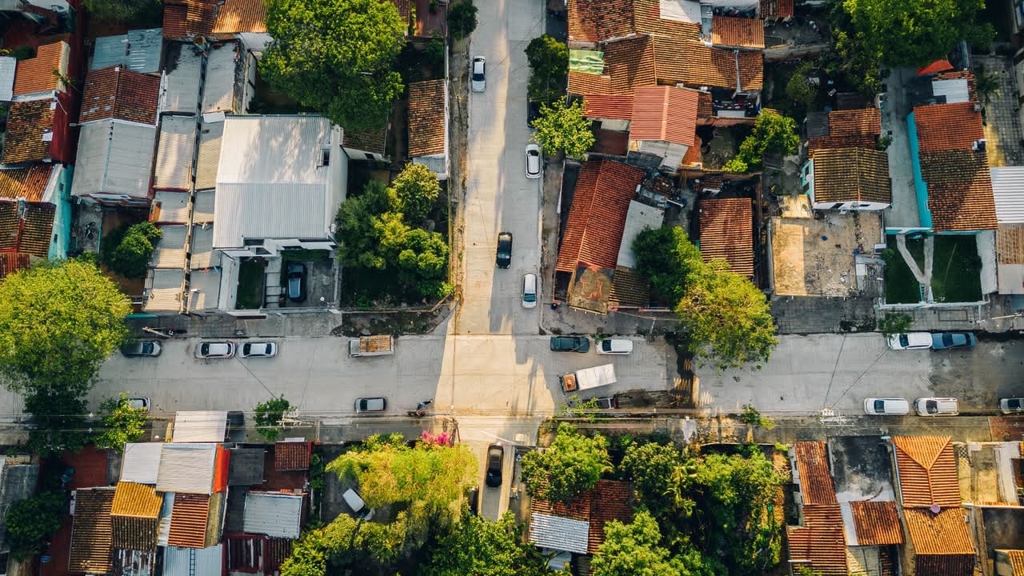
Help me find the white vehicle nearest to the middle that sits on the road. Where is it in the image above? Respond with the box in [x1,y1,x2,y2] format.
[521,273,539,308]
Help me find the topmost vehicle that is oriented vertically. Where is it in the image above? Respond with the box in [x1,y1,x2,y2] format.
[470,56,487,93]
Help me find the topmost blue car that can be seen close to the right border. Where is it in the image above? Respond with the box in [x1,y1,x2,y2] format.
[931,331,975,350]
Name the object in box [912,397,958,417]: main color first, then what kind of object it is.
white car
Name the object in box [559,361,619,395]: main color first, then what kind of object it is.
white truck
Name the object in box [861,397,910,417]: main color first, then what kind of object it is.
white vehicle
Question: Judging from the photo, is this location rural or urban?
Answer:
urban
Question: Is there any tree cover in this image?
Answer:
Yes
